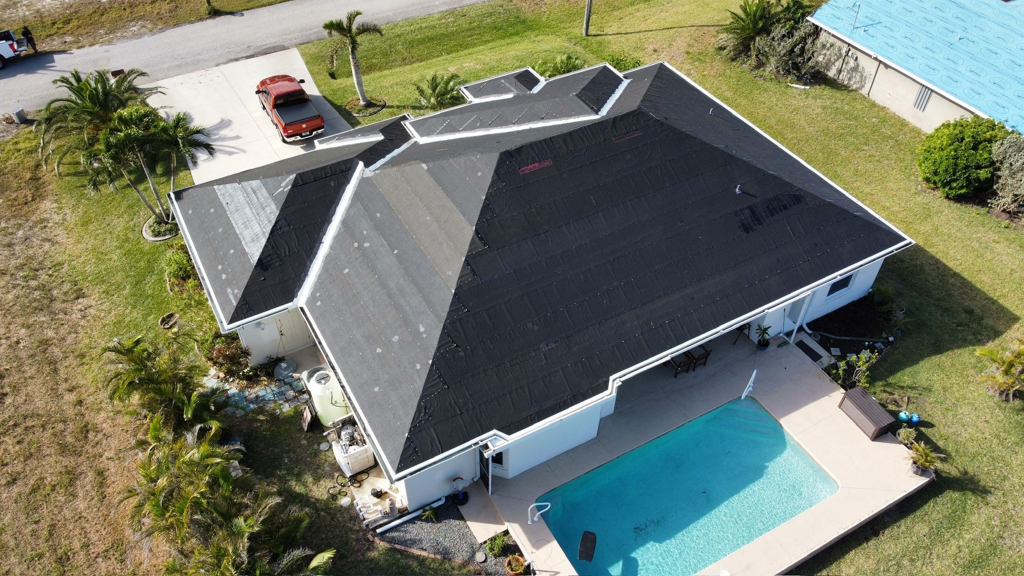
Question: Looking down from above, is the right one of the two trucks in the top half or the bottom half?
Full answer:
The top half of the photo is where the right one of the two trucks is.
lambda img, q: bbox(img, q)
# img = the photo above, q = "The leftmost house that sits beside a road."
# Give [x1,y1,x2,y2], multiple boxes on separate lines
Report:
[164,63,913,511]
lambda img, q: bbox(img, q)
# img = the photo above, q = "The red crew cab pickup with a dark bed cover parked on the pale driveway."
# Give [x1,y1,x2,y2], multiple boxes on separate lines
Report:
[248,72,325,143]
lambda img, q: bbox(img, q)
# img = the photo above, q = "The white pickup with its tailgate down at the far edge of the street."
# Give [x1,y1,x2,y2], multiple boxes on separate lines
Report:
[0,27,27,69]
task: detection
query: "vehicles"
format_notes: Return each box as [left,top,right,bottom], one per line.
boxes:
[248,72,325,143]
[0,27,27,69]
